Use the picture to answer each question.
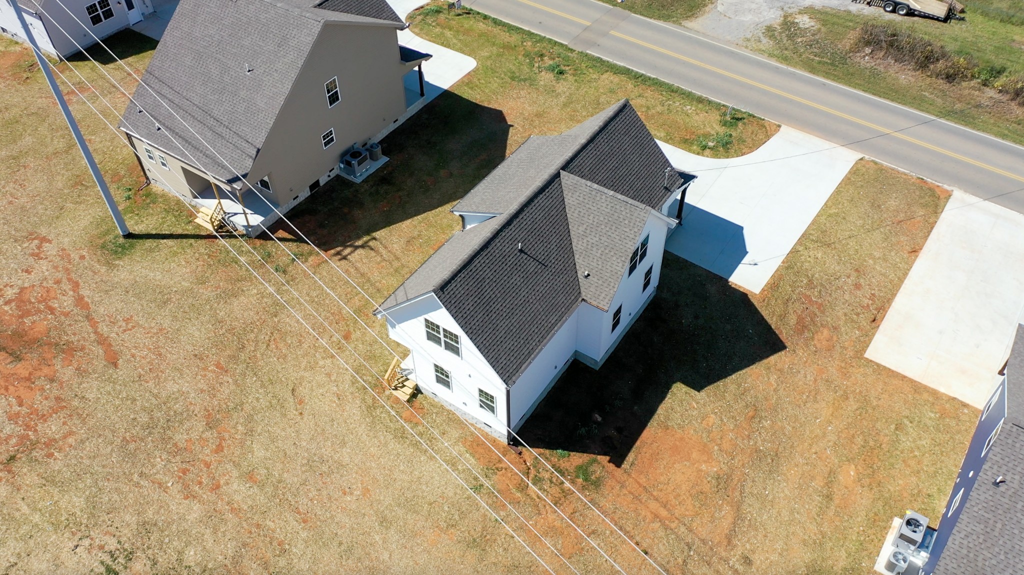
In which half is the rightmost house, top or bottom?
bottom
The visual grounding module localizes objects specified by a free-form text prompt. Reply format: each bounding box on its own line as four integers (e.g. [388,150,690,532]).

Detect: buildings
[126,0,433,237]
[924,332,1024,575]
[0,0,153,63]
[372,99,698,446]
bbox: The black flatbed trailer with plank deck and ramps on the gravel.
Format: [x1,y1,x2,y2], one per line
[866,0,970,26]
